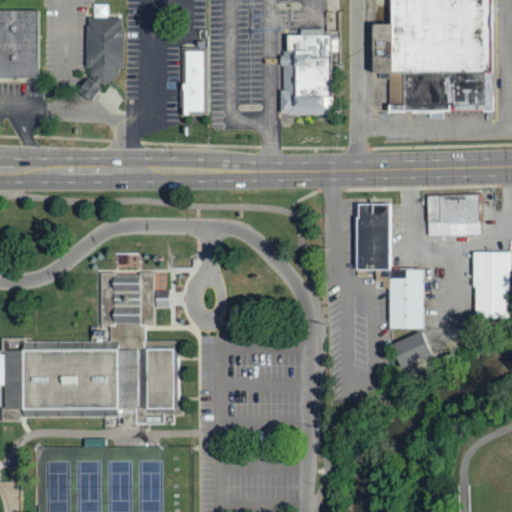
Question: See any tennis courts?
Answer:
Yes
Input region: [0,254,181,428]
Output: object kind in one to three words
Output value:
building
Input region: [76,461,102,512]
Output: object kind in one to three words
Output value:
tennis court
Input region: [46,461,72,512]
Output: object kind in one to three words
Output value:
tennis court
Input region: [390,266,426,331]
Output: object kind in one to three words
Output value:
building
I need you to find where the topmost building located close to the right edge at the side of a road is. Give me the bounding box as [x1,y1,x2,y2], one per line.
[373,0,494,118]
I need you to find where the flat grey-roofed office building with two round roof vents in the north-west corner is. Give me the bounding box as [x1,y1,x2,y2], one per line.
[0,11,41,80]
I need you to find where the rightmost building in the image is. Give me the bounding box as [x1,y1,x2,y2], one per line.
[472,250,512,319]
